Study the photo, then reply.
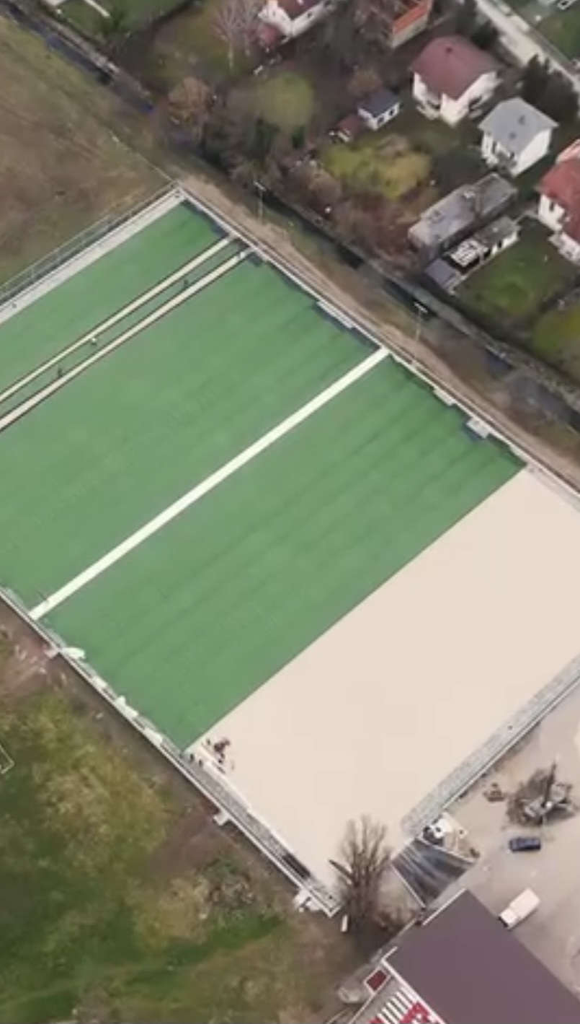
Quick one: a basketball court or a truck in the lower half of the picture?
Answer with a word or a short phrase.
truck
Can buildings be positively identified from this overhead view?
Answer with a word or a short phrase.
Yes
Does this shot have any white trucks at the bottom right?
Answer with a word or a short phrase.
Yes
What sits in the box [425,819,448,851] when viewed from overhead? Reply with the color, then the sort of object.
white work vehicle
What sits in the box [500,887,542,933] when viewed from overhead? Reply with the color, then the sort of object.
white truck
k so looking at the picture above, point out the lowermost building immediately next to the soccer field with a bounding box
[381,885,580,1024]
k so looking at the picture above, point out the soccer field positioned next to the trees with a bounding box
[0,192,580,912]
